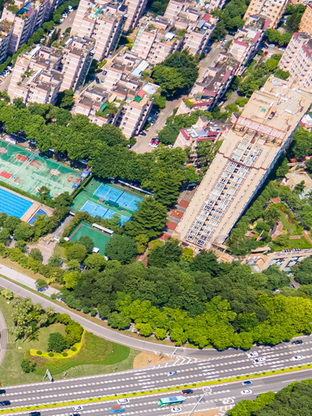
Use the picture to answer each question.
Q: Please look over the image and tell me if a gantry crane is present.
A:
No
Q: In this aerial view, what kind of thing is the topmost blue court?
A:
tennis court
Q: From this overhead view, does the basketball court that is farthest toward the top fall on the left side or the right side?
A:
left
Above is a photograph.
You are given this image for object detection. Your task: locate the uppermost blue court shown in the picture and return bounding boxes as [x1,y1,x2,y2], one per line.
[72,174,148,225]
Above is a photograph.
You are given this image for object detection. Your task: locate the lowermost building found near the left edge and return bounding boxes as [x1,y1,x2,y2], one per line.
[10,70,69,126]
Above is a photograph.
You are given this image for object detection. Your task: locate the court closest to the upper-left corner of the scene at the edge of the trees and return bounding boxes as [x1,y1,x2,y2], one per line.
[0,139,91,195]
